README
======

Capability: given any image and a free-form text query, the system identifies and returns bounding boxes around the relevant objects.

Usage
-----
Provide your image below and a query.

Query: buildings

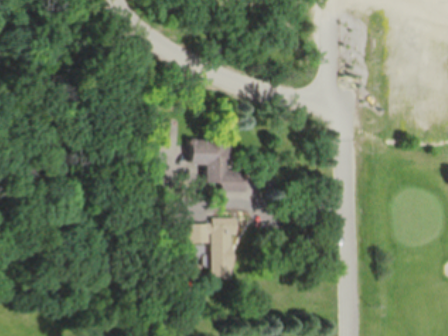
[192,218,236,278]
[193,138,248,194]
